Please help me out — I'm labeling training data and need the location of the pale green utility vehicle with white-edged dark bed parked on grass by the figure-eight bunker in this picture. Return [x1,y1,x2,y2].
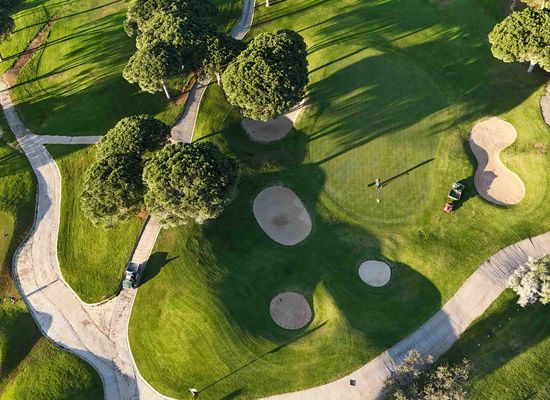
[449,180,465,199]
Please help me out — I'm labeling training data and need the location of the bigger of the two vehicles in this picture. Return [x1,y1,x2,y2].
[122,261,141,289]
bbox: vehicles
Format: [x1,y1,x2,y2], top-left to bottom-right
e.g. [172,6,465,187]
[122,261,141,289]
[449,180,465,199]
